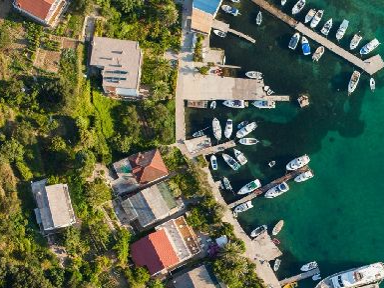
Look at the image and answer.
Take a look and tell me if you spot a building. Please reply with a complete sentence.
Yes, a building is visible in the scene.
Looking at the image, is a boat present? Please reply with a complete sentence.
Yes, there is a boat in the image.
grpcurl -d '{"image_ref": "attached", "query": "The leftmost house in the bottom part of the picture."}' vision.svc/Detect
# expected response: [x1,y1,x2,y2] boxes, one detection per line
[31,180,84,231]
